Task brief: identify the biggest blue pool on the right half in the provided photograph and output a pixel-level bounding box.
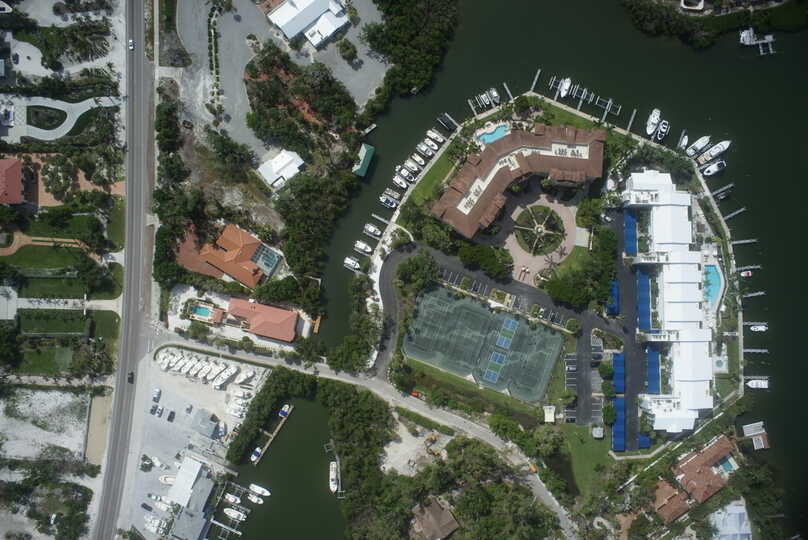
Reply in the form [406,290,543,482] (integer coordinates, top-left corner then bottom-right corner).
[703,264,721,309]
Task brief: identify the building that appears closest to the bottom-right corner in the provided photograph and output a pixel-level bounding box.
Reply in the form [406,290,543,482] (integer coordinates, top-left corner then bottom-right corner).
[712,500,753,540]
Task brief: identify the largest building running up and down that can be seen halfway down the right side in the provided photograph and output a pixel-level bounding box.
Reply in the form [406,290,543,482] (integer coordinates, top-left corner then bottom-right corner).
[623,170,713,433]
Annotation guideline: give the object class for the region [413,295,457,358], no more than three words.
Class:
tennis court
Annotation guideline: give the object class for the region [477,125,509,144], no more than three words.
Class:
swimming pool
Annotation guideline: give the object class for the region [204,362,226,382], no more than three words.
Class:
boat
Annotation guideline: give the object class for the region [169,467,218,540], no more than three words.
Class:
building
